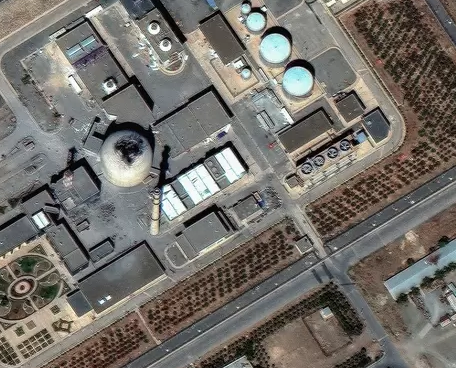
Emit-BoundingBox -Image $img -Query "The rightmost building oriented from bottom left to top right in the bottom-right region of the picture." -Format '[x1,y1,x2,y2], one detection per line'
[384,239,456,302]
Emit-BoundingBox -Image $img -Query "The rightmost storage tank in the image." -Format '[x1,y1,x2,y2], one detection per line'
[280,66,314,103]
